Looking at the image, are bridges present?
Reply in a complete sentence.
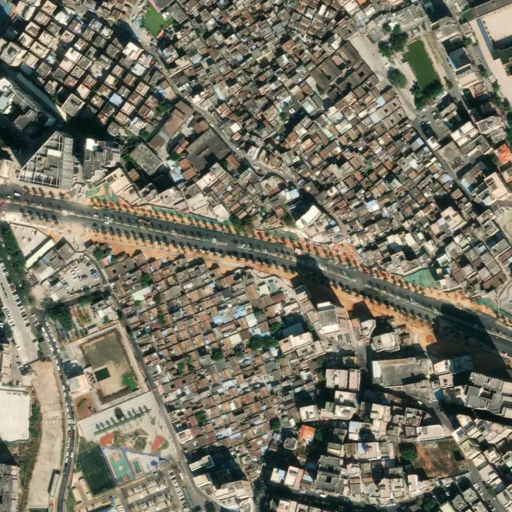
No, I find no bridge anywhere in the image.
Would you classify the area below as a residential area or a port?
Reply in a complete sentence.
This image shows a residential area.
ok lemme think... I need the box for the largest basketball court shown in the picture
[105,450,130,485]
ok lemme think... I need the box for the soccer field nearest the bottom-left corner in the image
[80,449,116,496]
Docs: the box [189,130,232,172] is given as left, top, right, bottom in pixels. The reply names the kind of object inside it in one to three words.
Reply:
building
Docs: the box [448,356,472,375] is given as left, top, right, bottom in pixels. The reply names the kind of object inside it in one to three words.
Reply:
house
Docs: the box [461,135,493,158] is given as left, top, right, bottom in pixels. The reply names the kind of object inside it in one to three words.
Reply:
building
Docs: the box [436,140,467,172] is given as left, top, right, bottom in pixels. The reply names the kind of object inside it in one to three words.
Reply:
house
